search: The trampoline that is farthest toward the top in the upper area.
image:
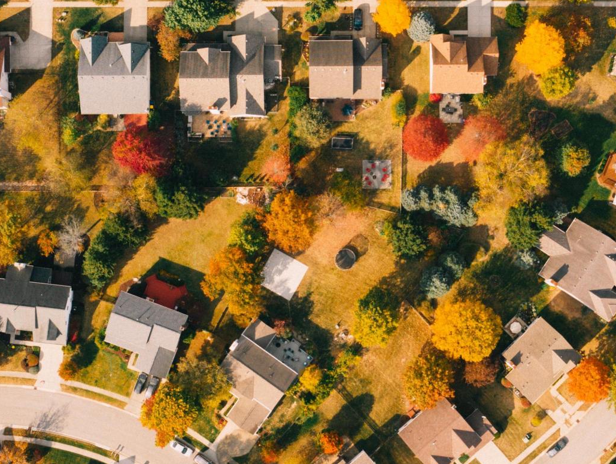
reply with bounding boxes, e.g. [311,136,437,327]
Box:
[332,136,353,148]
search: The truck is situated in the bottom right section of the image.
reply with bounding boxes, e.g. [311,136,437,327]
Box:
[545,435,569,458]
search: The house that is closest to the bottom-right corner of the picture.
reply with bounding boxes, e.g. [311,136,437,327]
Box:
[502,317,583,407]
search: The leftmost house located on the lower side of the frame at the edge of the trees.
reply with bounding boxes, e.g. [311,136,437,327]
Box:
[0,263,74,346]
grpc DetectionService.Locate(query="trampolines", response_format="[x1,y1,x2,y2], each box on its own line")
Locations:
[332,136,353,148]
[335,248,356,268]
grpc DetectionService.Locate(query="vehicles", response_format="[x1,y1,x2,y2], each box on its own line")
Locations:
[545,435,569,458]
[145,377,158,395]
[353,8,364,30]
[171,439,192,456]
[134,373,147,393]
